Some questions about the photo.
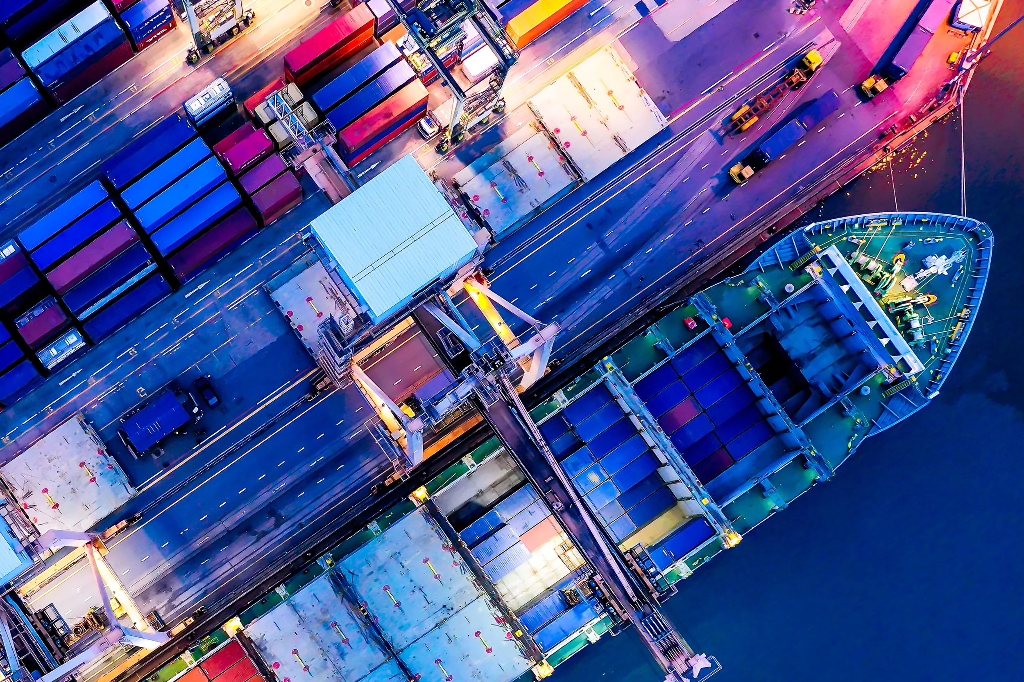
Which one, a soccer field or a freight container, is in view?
freight container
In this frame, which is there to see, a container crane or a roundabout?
container crane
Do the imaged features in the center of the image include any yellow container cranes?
No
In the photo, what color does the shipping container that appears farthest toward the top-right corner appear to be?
purple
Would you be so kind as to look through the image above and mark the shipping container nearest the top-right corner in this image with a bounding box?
[908,0,954,33]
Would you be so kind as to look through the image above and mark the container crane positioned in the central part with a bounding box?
[259,67,728,682]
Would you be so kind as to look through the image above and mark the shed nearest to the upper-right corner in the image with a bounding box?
[949,0,992,34]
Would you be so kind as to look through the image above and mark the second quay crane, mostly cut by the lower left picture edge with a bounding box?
[0,514,197,682]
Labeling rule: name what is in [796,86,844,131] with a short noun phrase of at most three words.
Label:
shipping container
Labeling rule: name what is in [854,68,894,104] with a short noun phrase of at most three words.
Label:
truck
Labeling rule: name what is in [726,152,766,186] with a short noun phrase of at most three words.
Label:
truck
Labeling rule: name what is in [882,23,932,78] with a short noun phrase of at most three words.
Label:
shipping container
